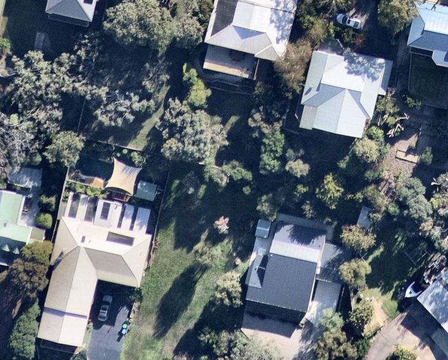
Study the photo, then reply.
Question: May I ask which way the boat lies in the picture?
at an angle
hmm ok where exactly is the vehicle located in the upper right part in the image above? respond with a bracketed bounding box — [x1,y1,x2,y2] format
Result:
[335,12,363,29]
